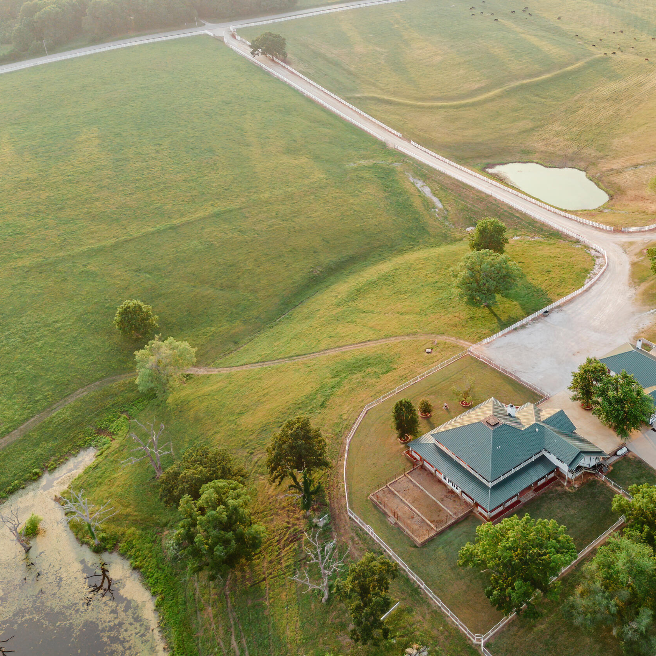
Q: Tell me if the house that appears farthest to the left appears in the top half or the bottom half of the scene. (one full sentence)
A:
The house that appears farthest to the left sits in the bottom half of the picture.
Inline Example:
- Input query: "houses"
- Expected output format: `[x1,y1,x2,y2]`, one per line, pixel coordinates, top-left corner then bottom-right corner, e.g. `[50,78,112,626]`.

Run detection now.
[407,396,610,526]
[598,338,656,419]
